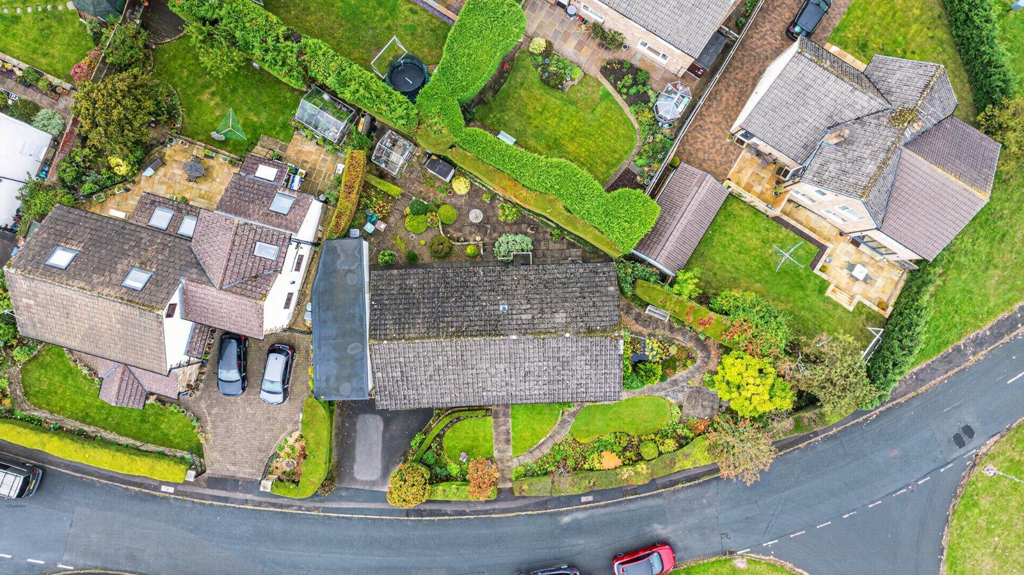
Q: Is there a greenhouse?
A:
Yes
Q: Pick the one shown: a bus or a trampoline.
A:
trampoline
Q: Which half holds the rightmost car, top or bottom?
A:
top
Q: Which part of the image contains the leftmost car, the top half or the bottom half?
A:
bottom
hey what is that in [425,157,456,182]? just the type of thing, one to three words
shed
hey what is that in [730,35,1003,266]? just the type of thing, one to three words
house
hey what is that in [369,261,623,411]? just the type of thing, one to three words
house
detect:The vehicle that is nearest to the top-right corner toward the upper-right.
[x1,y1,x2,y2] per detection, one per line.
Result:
[782,0,835,46]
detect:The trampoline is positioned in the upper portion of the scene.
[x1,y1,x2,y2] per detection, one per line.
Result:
[382,46,430,96]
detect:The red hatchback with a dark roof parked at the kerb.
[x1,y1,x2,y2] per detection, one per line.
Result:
[610,539,676,575]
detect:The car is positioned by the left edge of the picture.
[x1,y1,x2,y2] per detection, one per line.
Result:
[0,458,42,498]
